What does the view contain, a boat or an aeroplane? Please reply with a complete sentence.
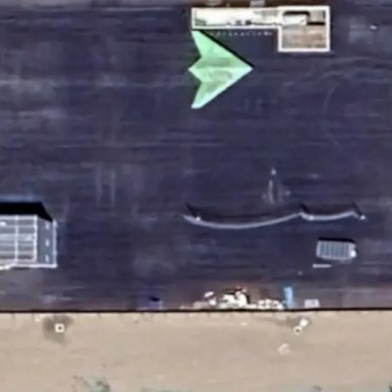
Of the two, only an aeroplane appears.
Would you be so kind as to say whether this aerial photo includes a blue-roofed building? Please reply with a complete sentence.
No, the photo shows no blue-roofed building.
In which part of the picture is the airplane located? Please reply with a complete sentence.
You can find the airplane in the top area of the picture.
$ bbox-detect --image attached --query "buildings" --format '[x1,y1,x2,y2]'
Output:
[0,215,55,270]
[191,7,334,53]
